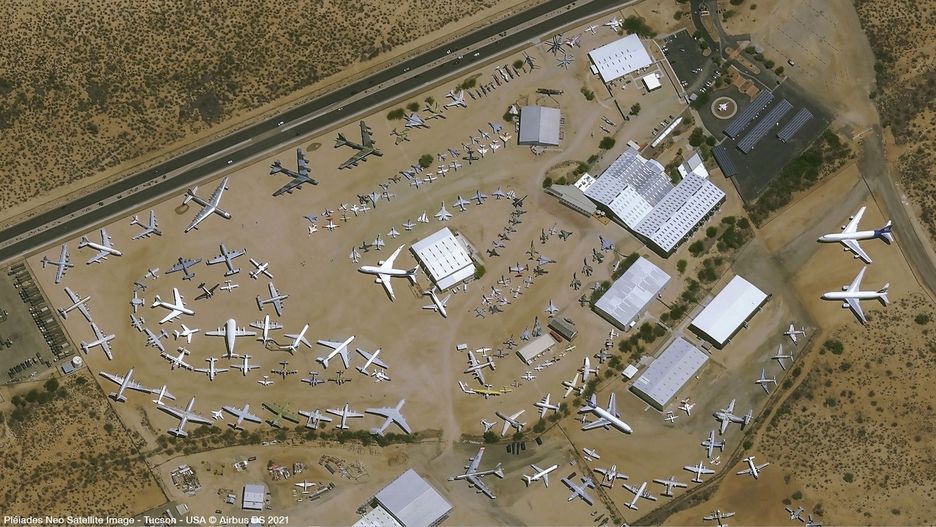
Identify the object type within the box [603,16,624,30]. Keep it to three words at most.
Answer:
airplane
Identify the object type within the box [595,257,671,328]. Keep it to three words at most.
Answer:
hangar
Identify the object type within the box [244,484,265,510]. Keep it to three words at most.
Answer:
building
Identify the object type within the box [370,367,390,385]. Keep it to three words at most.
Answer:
airplane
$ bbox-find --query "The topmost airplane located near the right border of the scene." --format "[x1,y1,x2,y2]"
[818,204,895,262]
